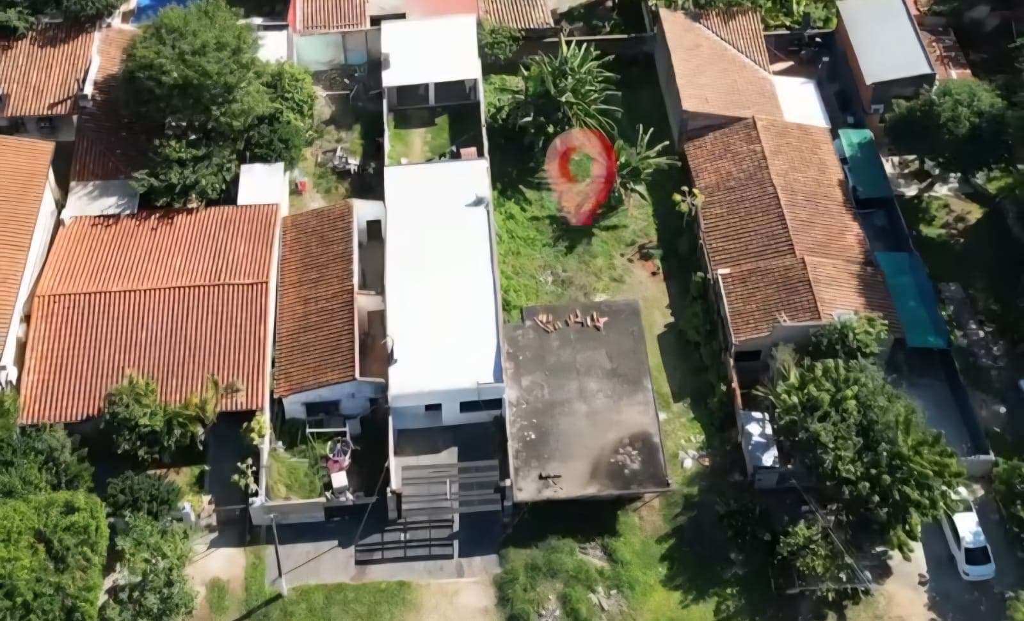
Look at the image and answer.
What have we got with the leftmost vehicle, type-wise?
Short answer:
car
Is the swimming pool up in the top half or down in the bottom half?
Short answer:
top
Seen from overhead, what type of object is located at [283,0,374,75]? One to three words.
house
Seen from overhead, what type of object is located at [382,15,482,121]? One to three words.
building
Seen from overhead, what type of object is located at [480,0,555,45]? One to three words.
house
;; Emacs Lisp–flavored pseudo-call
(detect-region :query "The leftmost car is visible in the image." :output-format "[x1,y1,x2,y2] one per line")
[945,498,998,576]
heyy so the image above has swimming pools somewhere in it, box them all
[123,0,224,30]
